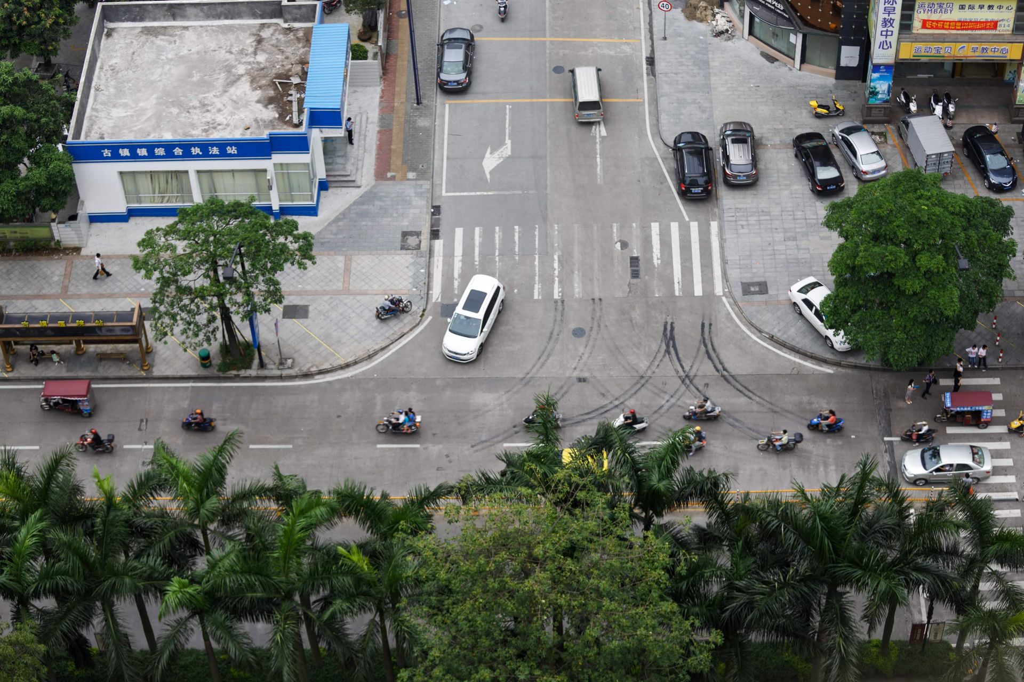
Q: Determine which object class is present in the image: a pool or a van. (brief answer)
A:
van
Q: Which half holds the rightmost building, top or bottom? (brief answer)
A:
top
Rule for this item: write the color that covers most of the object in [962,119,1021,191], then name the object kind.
black car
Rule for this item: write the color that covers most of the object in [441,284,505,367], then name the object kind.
white car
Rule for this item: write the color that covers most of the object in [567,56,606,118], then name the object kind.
white van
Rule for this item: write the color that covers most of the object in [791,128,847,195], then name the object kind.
black car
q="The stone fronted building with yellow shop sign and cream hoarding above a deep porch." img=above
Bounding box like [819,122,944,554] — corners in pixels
[895,0,1024,83]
